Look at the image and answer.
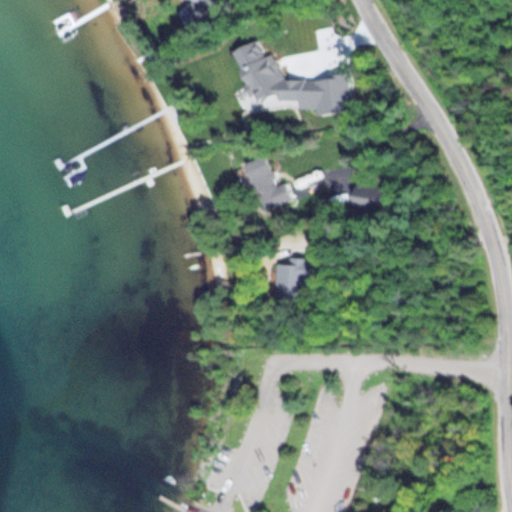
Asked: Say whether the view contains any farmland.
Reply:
No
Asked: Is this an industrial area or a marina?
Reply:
marina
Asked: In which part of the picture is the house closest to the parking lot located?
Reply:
center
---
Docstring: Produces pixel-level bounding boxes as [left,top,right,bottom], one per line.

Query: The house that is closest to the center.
[276,258,306,291]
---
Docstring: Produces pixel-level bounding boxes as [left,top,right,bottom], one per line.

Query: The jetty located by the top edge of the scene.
[53,2,112,39]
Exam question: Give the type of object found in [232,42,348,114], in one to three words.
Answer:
house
